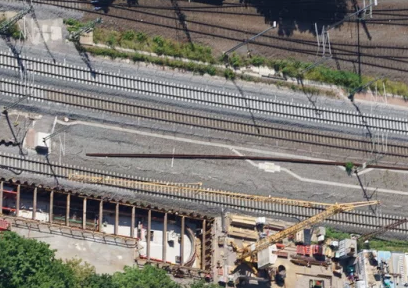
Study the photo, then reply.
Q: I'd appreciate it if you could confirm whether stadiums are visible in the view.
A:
No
